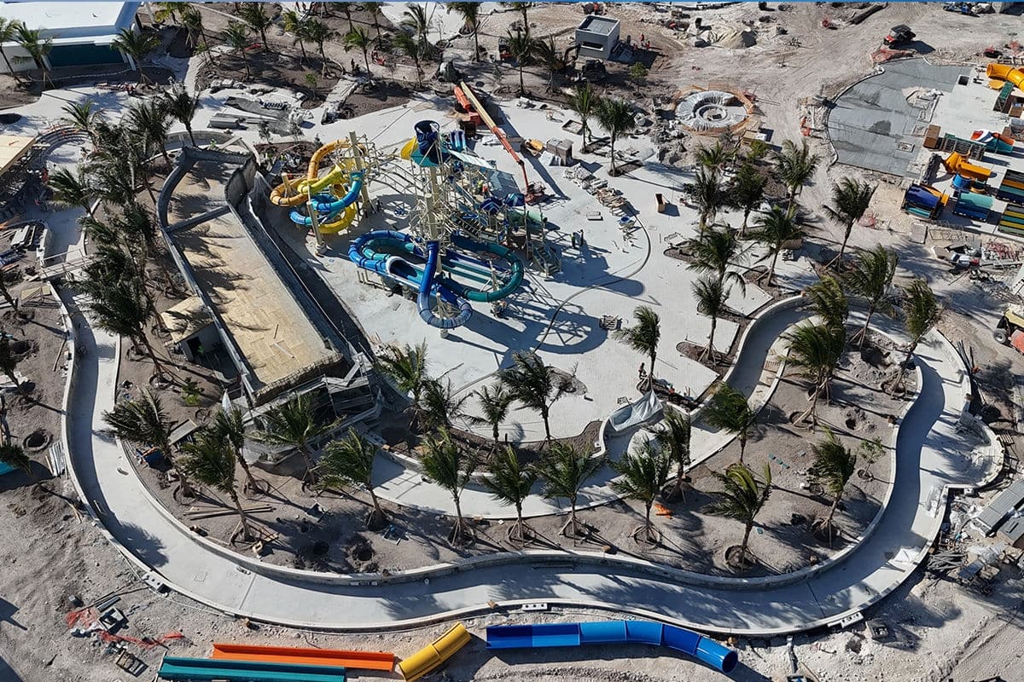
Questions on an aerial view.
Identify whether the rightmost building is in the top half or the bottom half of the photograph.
top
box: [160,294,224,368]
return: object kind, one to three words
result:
shed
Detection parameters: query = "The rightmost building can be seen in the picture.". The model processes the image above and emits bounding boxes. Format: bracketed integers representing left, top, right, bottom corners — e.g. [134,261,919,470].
[576,4,622,59]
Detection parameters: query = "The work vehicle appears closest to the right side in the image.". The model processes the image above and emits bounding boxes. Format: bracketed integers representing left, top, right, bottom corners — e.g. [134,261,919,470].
[987,306,1024,345]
